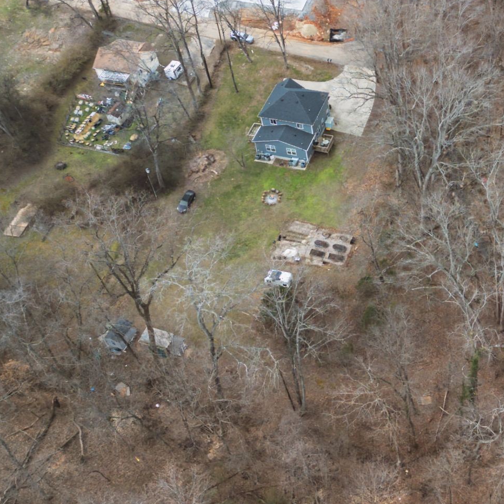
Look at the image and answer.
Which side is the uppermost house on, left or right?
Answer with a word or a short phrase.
left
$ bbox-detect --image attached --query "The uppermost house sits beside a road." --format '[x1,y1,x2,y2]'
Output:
[91,28,163,94]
